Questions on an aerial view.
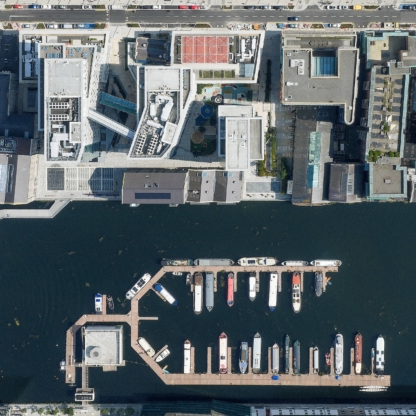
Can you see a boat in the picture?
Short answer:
Yes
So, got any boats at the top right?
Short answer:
No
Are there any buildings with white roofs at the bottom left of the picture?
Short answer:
Yes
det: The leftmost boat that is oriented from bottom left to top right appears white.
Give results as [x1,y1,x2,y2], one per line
[127,274,150,299]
